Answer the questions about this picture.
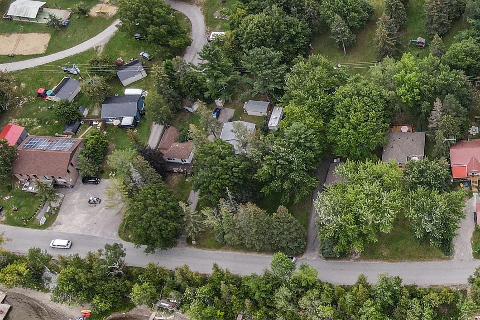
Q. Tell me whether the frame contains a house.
Yes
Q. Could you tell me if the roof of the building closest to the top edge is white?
Yes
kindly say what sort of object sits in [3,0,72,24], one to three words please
building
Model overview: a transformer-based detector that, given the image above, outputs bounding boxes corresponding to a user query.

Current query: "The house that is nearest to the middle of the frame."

[220,121,258,153]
